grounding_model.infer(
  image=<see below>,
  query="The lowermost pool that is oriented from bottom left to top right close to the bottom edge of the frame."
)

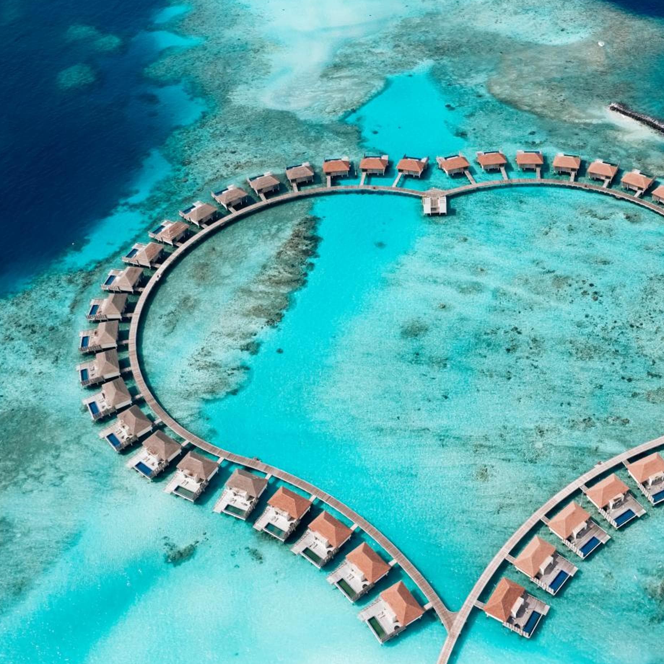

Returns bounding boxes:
[521,611,541,635]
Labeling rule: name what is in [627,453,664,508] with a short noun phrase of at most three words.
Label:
house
